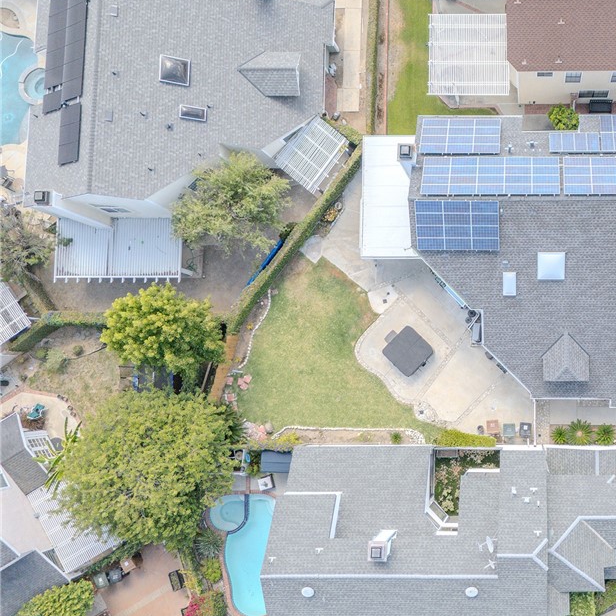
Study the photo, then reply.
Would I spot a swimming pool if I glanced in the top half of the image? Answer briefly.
Yes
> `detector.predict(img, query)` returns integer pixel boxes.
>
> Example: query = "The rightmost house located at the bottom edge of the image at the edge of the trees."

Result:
[260,444,616,616]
